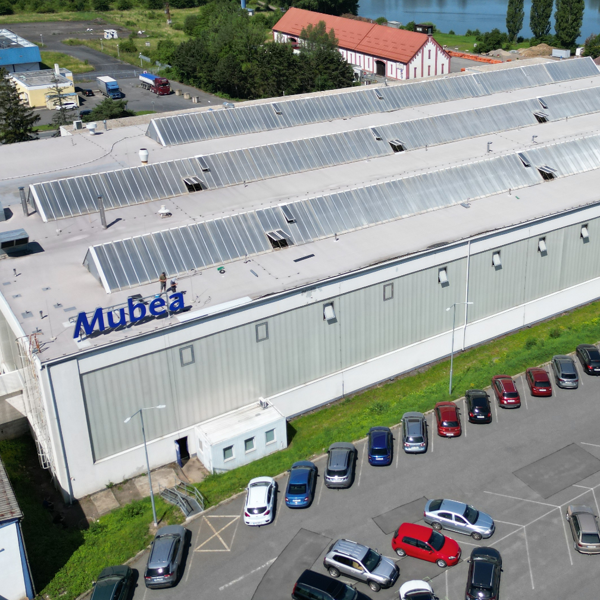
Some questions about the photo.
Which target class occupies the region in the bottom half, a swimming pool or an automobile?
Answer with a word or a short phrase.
automobile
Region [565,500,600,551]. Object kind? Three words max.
car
